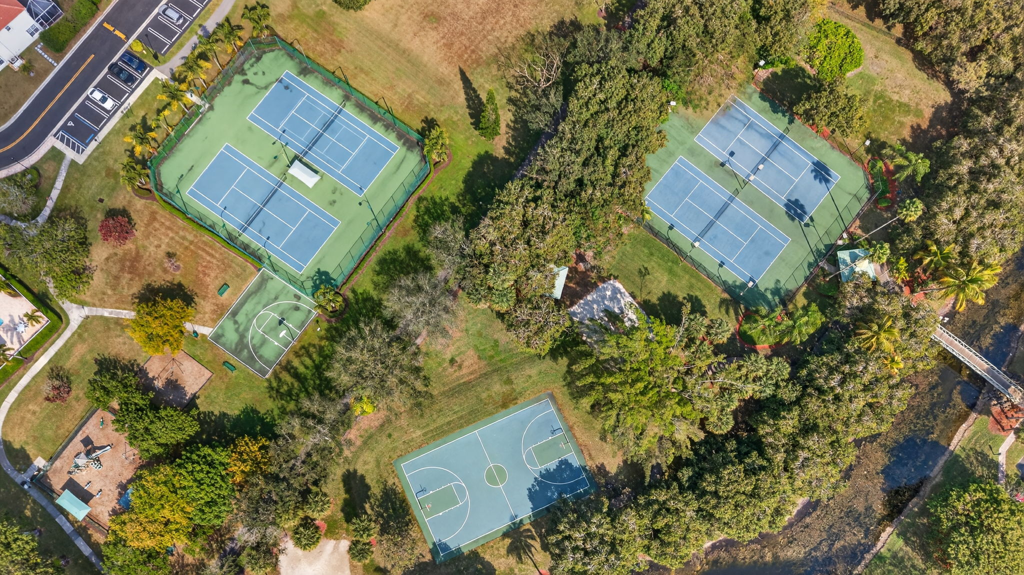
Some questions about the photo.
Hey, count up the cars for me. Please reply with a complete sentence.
Altogether the scene contains 4 cars.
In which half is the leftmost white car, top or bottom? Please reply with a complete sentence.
You can find the leftmost white car in the top half.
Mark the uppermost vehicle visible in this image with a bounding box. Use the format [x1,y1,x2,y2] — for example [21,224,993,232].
[157,3,184,24]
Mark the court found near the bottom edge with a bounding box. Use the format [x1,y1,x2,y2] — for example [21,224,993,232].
[394,393,598,564]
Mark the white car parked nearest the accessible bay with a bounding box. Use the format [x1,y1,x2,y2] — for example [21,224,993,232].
[86,87,115,109]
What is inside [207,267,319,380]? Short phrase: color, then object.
green basketball court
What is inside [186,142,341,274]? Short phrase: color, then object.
blue tennis court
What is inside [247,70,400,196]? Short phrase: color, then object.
blue tennis court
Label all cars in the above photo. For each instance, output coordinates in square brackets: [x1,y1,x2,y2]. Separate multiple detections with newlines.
[119,49,147,71]
[107,62,136,84]
[157,3,184,24]
[86,87,115,109]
